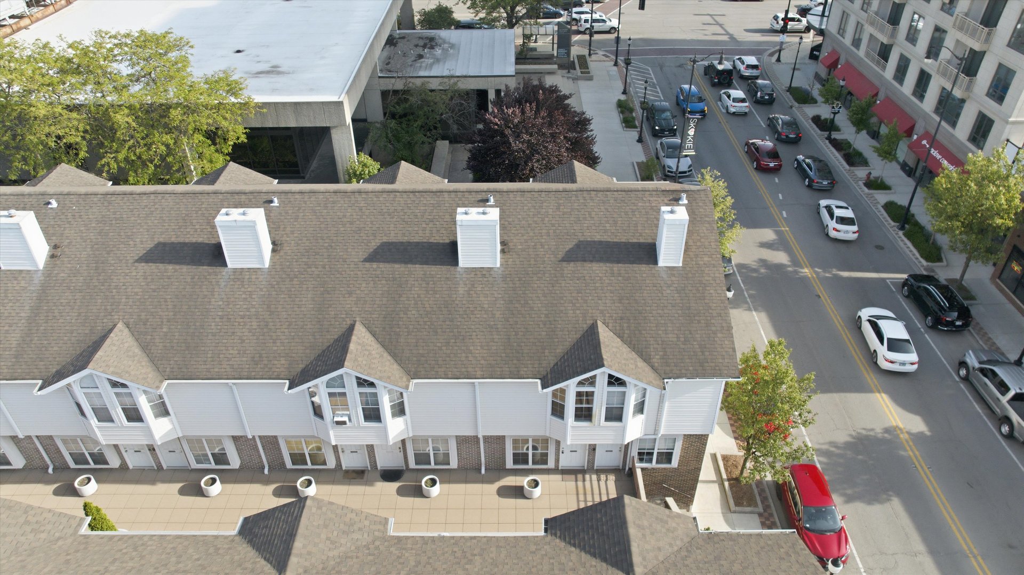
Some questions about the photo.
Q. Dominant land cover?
buildings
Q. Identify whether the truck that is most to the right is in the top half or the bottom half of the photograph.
bottom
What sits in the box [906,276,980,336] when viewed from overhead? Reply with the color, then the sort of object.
black car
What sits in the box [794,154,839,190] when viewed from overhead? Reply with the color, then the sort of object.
black car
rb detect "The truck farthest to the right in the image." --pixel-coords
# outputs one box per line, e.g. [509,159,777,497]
[957,344,1024,444]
